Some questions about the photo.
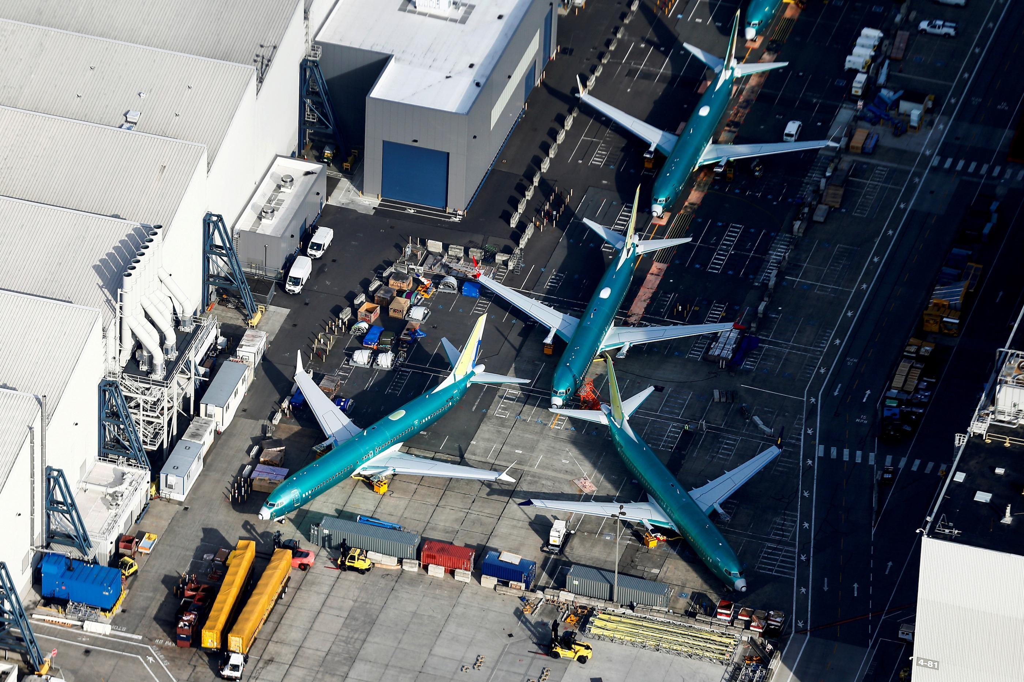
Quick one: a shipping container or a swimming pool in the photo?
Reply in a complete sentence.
Looking from above, you can make out a shipping container.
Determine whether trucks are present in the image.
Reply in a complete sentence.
Yes, I can see a truck in this picture.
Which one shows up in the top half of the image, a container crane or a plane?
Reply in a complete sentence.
The one visible in the top half of the image is a plane.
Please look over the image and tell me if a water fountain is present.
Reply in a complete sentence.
No, this view has no water fountain in it.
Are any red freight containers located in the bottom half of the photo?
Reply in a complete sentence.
Yes, looking in the bottom half of the photo, one can make out a red freight container.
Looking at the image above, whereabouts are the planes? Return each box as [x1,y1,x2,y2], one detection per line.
[742,0,784,44]
[518,353,784,592]
[471,184,746,409]
[576,9,839,221]
[257,313,531,524]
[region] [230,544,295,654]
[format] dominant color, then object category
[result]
orange trailer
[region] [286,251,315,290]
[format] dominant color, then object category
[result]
white van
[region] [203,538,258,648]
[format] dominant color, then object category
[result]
orange trailer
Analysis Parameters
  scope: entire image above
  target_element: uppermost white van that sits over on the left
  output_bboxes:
[307,214,337,254]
